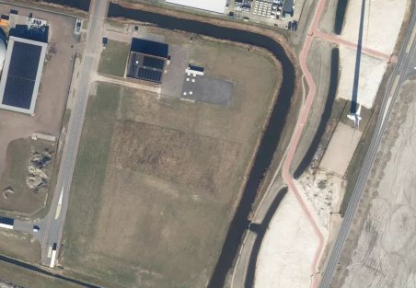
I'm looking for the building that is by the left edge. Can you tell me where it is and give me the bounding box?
[0,37,49,115]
